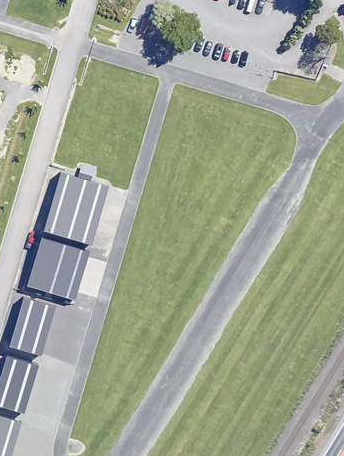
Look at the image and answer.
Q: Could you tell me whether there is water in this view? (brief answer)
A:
No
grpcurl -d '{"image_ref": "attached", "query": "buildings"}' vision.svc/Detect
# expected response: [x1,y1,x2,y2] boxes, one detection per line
[8,297,56,356]
[44,172,109,246]
[0,355,39,414]
[0,414,22,456]
[27,238,90,300]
